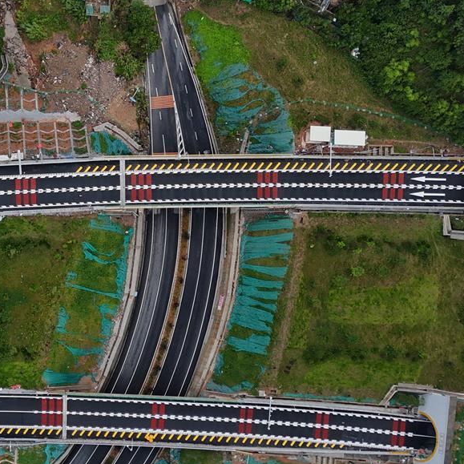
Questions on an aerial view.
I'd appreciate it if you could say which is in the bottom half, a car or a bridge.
bridge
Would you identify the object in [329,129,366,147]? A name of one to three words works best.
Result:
building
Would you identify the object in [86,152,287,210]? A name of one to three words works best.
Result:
bridge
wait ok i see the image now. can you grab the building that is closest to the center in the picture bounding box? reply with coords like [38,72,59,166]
[305,125,331,143]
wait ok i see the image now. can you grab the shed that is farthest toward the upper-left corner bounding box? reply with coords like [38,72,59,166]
[86,0,111,15]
